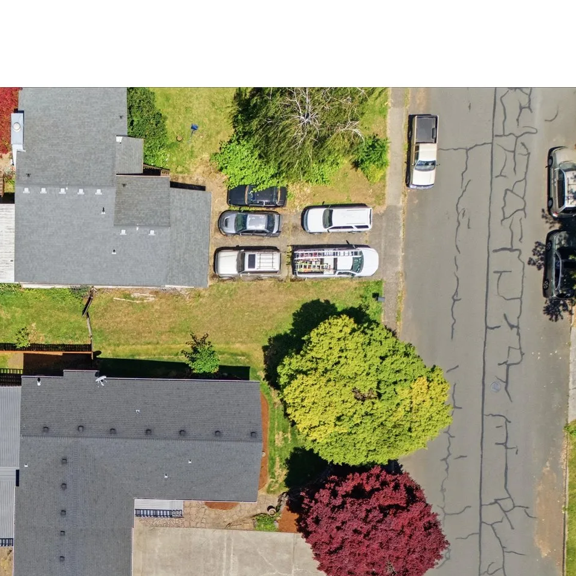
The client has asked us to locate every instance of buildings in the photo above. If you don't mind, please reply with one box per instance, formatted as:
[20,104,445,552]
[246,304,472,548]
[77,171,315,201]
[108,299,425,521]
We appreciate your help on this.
[10,84,212,290]
[12,370,262,576]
